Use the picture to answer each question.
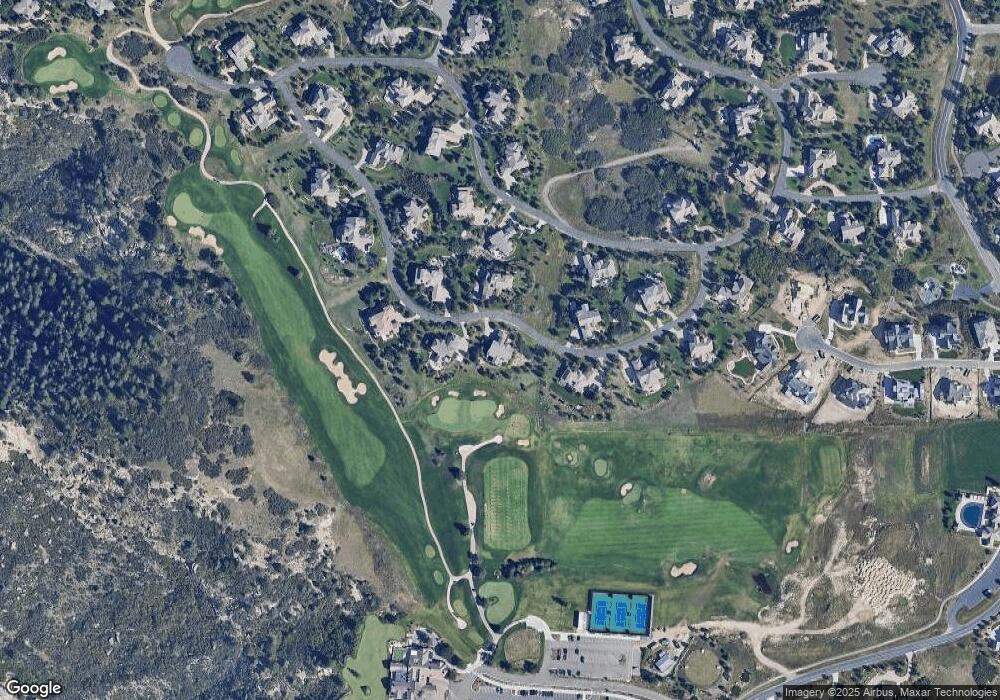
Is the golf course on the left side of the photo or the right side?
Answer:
left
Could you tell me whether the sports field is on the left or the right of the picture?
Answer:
right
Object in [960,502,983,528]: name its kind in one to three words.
swimming pool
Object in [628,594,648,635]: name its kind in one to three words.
tennis court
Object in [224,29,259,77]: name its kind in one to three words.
house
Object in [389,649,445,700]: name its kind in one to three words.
building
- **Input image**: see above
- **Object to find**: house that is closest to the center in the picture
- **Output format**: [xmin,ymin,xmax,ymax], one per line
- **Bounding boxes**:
[483,327,519,368]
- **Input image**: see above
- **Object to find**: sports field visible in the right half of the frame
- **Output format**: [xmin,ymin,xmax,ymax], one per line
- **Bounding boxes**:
[945,422,1000,494]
